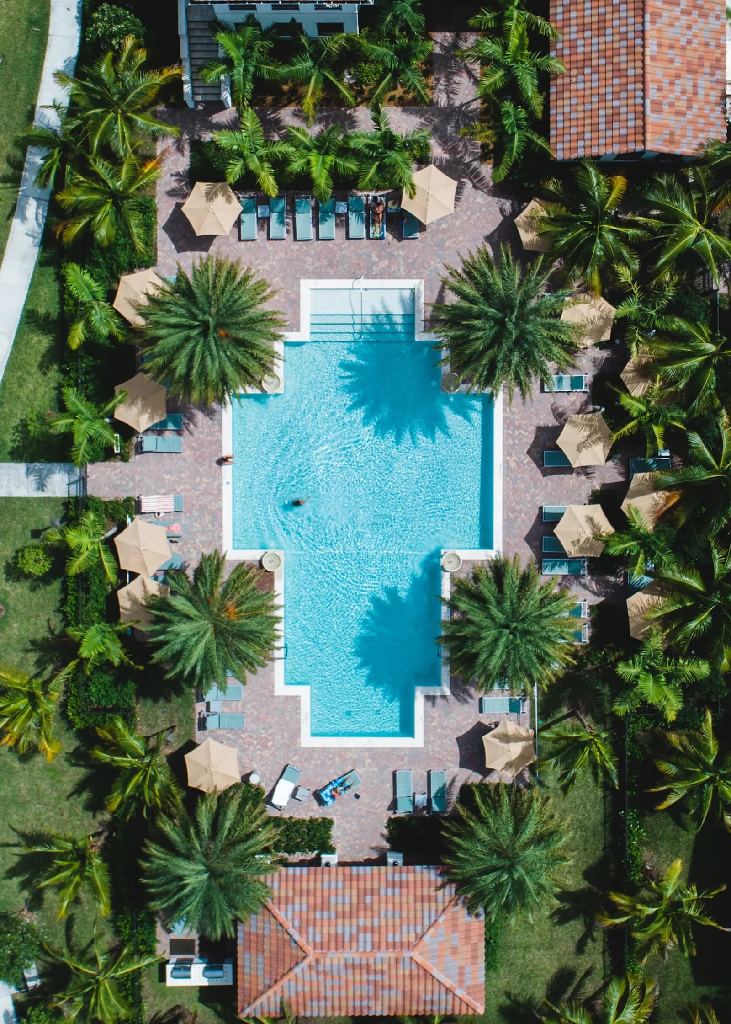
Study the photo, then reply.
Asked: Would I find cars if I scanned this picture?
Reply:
No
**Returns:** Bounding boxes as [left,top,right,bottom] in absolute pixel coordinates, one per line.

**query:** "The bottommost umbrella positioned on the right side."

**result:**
[480,718,536,778]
